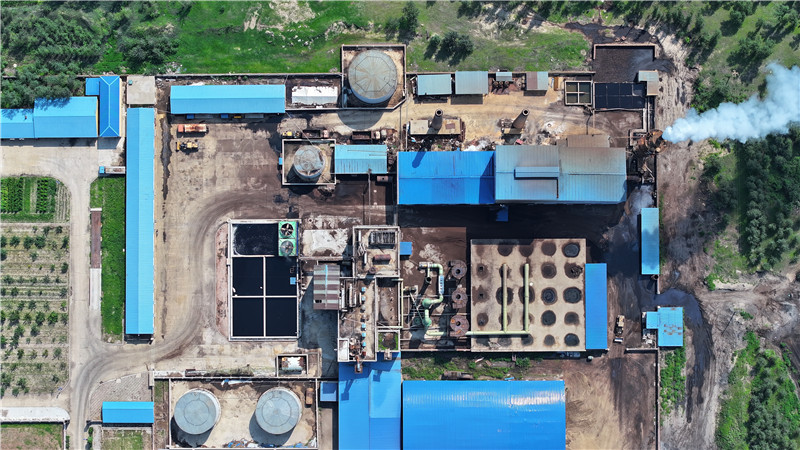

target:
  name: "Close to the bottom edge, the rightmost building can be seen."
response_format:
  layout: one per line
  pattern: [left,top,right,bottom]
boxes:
[403,379,567,450]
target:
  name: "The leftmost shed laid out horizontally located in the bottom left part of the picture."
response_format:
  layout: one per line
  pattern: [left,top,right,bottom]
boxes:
[100,400,157,424]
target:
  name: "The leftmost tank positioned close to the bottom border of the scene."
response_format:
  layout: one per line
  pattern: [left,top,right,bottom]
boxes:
[173,386,223,434]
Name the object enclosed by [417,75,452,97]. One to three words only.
shed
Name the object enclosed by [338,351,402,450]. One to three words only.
building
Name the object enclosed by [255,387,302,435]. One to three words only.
storage tank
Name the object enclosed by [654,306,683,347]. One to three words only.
house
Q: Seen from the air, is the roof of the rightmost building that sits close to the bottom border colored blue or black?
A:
blue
